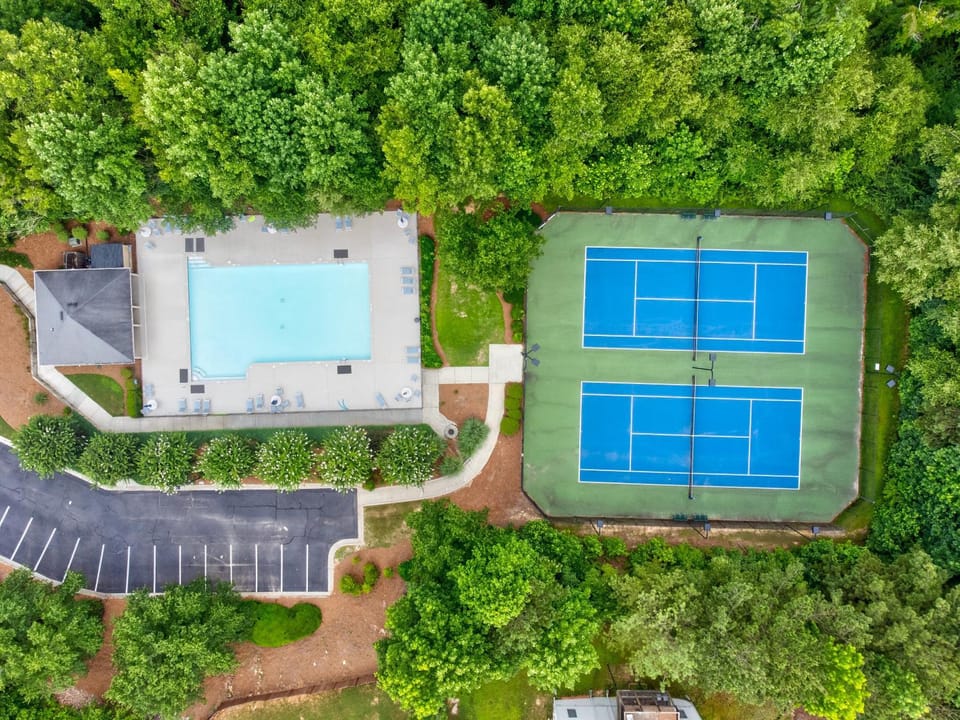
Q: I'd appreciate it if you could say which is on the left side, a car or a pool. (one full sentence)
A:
There is a pool on the left side.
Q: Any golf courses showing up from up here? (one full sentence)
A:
No, the scene contains no golf course.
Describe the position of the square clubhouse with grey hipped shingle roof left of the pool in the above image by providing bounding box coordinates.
[32,266,149,367]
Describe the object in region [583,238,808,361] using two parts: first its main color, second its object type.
blue tennis court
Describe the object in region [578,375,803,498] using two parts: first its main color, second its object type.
blue tennis court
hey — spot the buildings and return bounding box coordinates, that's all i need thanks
[32,266,149,367]
[552,676,701,720]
